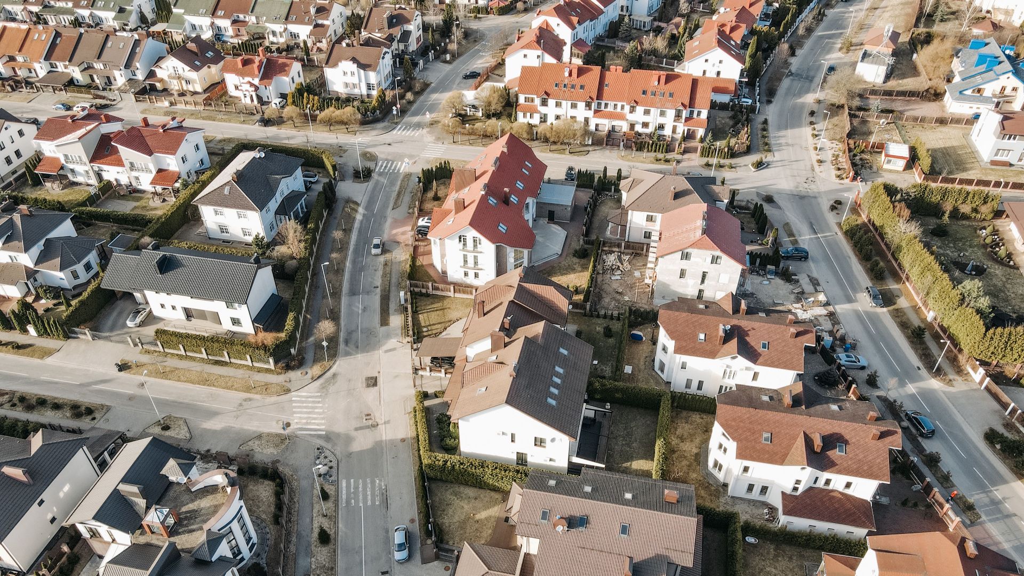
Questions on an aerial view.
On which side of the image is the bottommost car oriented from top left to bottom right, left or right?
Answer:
right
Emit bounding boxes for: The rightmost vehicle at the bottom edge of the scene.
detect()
[390,520,410,562]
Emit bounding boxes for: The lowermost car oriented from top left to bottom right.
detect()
[905,405,942,437]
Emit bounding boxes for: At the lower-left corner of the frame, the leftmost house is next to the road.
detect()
[0,405,104,571]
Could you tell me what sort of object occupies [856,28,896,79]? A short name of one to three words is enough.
building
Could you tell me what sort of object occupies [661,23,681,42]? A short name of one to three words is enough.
gazebo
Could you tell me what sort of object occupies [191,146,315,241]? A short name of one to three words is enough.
house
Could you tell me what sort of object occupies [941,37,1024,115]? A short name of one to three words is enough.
house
